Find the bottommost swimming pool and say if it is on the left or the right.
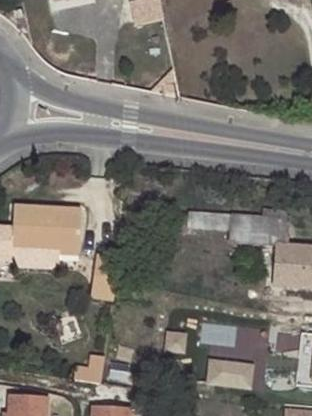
right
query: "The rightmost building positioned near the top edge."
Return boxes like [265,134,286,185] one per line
[130,0,164,26]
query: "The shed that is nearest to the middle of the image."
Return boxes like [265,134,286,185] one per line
[188,210,230,232]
